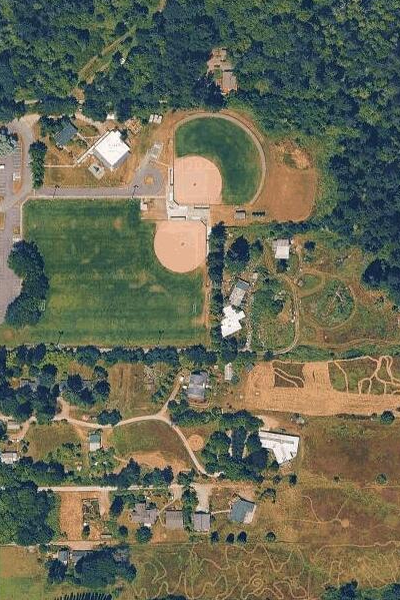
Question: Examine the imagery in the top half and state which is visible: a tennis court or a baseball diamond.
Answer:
baseball diamond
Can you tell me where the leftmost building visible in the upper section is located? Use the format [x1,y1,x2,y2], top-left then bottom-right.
[53,120,80,149]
